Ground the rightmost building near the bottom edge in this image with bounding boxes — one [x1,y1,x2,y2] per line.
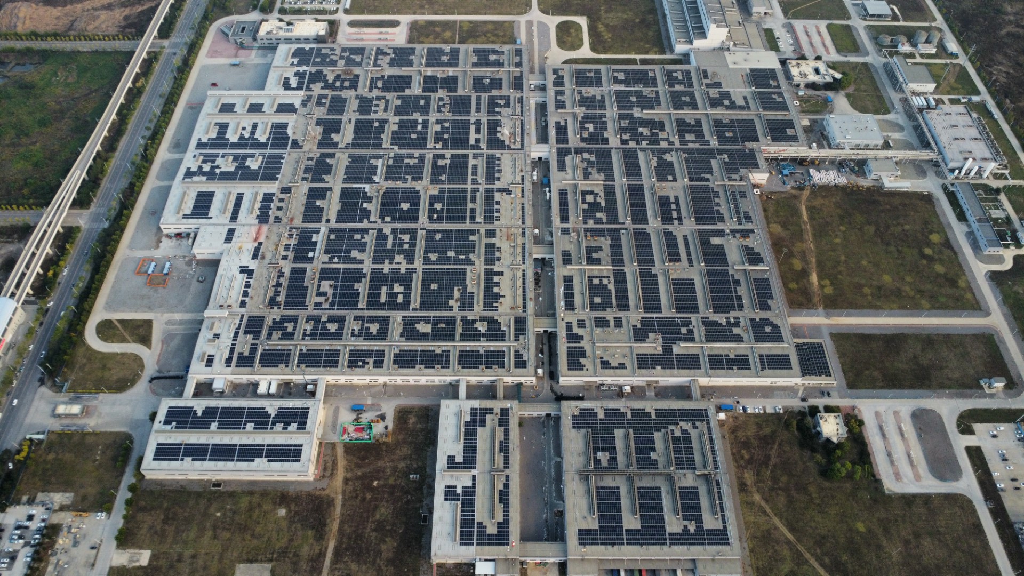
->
[560,401,744,576]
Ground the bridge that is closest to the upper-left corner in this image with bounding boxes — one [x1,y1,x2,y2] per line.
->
[0,0,175,315]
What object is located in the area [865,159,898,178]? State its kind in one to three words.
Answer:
building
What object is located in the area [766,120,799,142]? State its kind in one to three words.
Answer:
solar array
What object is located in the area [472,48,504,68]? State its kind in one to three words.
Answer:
solar array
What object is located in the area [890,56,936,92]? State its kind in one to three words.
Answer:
building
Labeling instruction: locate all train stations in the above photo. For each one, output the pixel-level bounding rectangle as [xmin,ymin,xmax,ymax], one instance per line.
[0,302,34,385]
